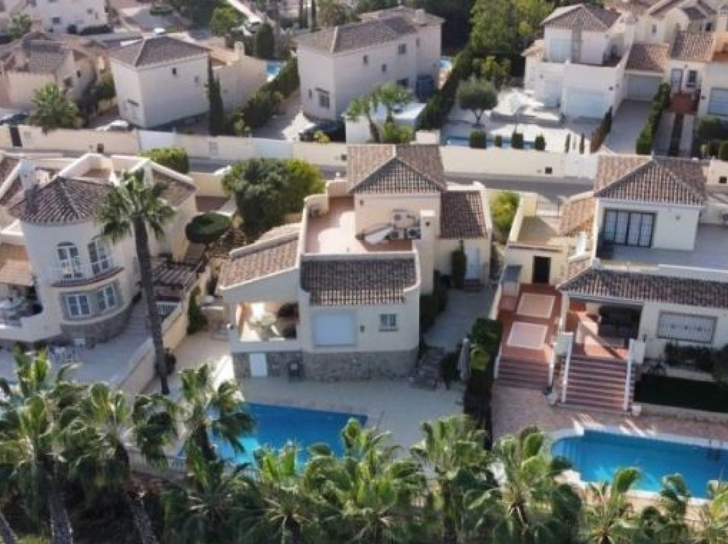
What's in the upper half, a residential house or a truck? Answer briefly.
residential house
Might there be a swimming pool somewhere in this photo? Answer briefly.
Yes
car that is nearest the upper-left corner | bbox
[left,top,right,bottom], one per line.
[0,110,36,127]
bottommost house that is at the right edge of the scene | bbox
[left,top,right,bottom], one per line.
[509,154,728,354]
